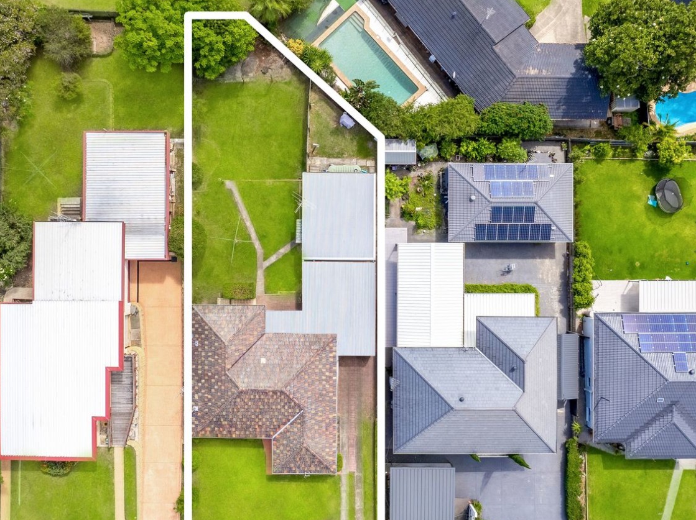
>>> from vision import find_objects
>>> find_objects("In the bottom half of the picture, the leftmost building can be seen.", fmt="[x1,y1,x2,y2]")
[0,221,132,460]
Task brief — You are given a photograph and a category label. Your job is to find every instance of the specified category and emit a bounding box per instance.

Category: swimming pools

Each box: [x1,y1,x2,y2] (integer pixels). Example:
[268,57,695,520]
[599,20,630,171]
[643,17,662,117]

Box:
[650,85,696,134]
[315,6,427,123]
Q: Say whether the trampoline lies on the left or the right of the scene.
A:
right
